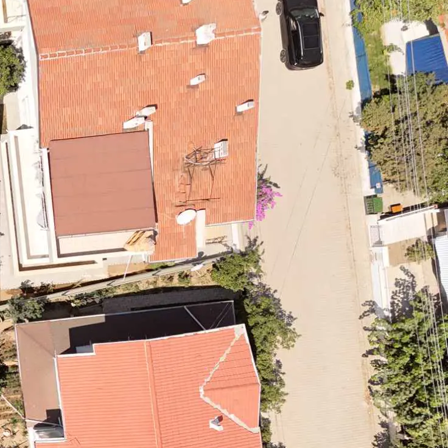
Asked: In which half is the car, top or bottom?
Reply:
top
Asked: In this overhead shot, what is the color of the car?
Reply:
black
